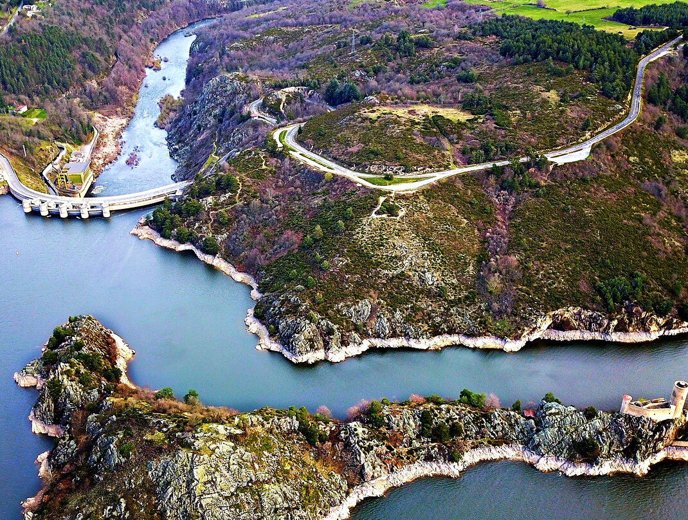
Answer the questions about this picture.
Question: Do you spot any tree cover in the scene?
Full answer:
Yes, there's tree cover in this view.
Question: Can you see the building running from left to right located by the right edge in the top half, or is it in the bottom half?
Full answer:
The building running from left to right located by the right edge is in the bottom half of the image.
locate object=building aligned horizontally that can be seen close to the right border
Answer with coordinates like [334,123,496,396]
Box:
[628,400,677,420]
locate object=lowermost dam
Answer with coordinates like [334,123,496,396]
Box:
[6,180,194,218]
